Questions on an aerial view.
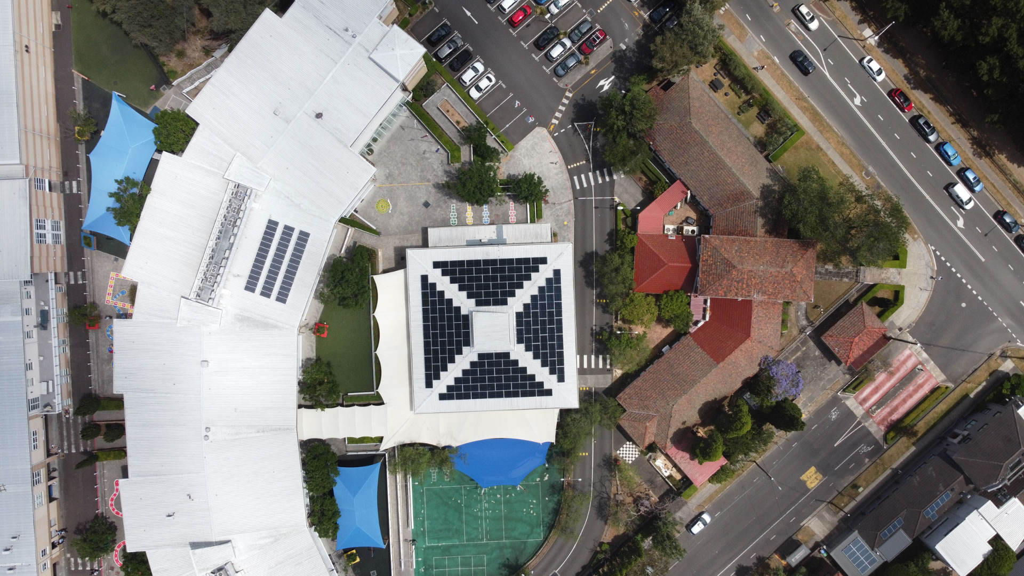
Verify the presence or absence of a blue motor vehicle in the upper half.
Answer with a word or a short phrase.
Yes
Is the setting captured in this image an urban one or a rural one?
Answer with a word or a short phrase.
urban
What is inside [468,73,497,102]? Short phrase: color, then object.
white car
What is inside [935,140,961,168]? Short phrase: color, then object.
blue car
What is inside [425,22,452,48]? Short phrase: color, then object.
black car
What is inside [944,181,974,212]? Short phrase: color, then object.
white car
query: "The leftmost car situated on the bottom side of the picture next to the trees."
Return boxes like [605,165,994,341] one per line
[685,509,712,536]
